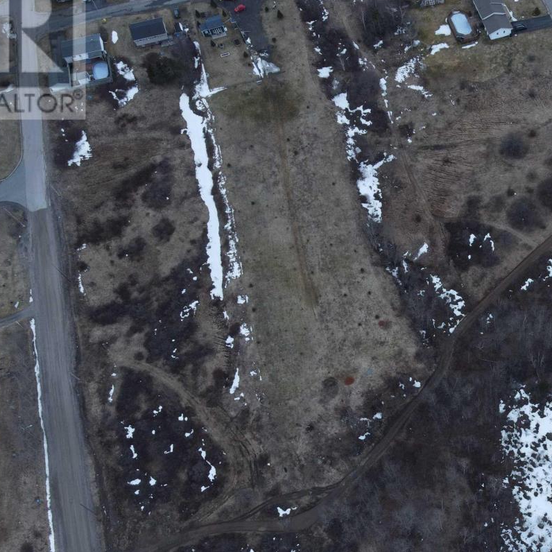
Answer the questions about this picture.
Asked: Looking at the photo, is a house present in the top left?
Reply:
Yes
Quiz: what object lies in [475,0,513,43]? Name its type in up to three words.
house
